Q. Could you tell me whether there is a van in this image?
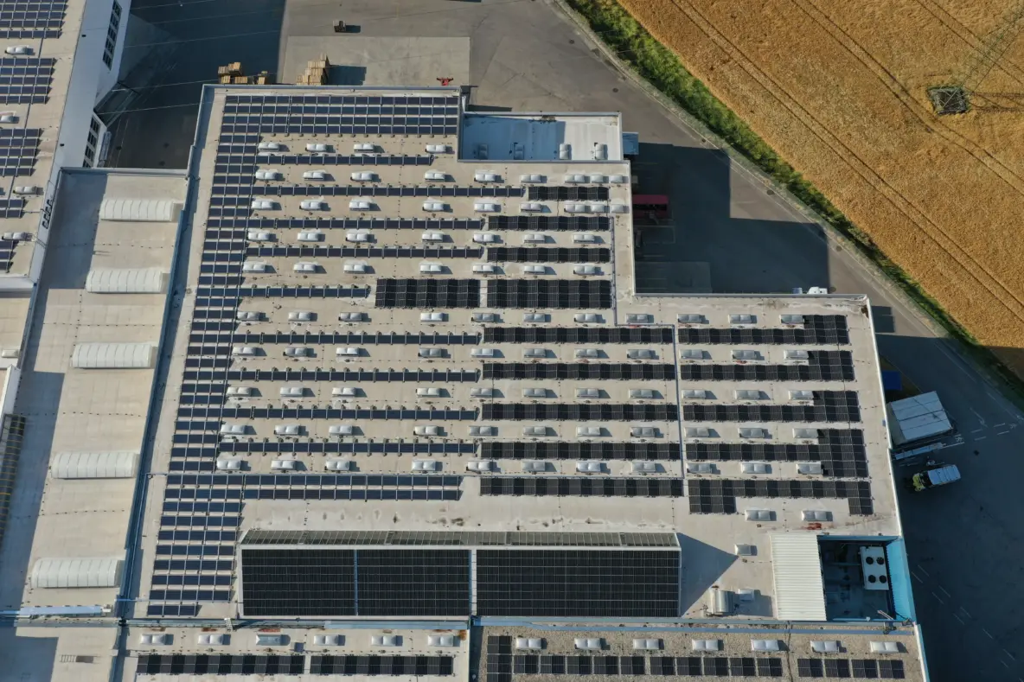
Yes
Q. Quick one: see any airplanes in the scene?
No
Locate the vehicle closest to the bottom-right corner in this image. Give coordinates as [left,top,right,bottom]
[904,465,964,495]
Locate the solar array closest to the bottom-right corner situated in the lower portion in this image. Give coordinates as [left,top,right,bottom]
[477,552,679,615]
